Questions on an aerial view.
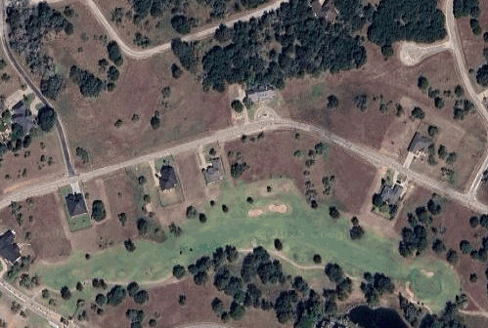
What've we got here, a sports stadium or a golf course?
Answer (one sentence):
There is a golf course in the scene.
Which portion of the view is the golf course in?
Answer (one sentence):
The golf course appears toward the bottom of the photo.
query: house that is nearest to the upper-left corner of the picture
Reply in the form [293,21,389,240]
[13,108,33,134]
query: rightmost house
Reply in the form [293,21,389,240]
[406,133,432,153]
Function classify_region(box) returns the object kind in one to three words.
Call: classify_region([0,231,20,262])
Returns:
house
